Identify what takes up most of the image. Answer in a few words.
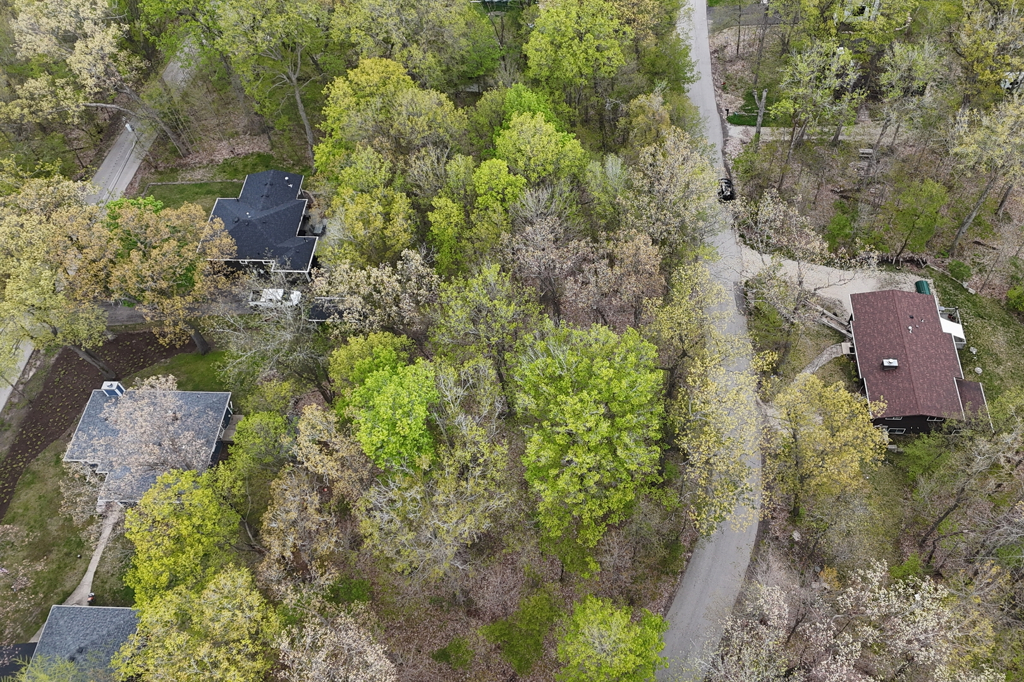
trees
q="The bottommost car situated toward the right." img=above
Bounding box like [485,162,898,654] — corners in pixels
[720,173,736,198]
